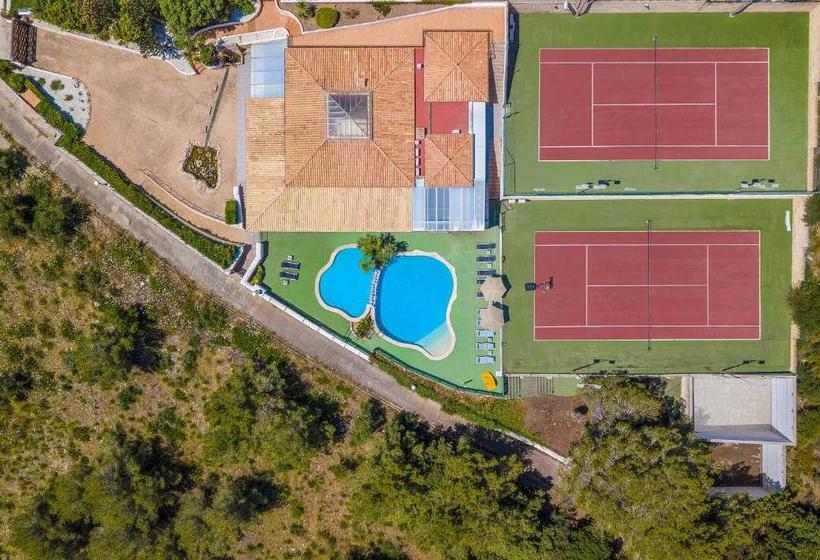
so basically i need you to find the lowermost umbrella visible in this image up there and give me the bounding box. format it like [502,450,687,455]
[479,304,504,332]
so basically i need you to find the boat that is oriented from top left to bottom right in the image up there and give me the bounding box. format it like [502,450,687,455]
[482,372,496,390]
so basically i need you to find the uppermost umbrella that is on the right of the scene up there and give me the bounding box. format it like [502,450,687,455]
[479,276,507,302]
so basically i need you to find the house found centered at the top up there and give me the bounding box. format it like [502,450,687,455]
[245,29,491,232]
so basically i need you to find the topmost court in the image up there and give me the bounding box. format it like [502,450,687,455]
[502,13,809,195]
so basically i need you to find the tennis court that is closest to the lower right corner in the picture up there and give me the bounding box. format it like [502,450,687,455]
[504,199,793,374]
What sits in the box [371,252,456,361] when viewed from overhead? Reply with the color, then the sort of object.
blue swimming pool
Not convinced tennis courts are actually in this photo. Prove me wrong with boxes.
[504,199,793,374]
[502,13,809,195]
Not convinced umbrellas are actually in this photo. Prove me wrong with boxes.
[479,276,507,302]
[479,304,504,332]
